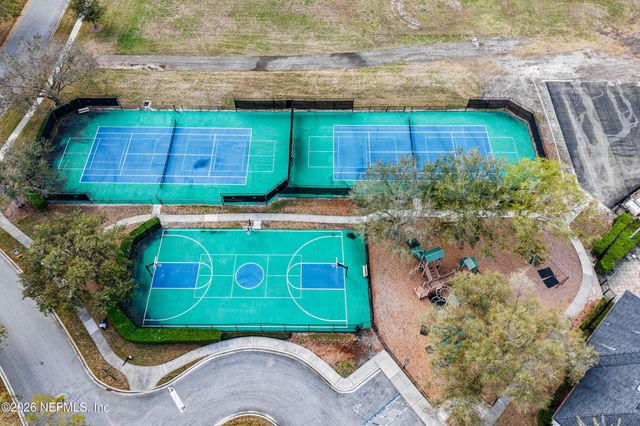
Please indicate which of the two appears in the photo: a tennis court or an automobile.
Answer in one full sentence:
The one in the frame is a tennis court.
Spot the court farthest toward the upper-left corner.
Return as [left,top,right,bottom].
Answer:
[42,111,292,205]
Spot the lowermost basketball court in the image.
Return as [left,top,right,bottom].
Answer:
[122,228,371,332]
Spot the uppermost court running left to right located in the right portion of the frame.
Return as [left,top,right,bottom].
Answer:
[281,112,541,199]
